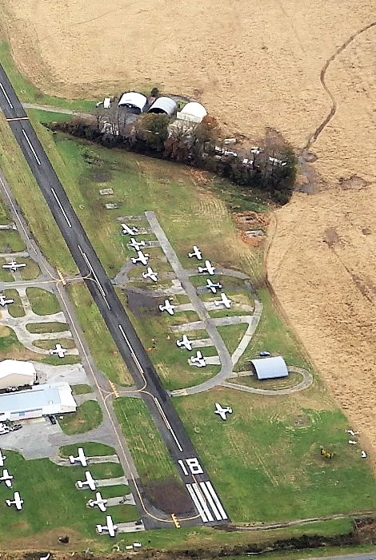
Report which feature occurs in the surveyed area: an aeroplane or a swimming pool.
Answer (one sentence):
I can see an aeroplane in this picture.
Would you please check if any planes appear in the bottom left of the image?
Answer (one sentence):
Yes, a plane is visible in the bottom left of the image.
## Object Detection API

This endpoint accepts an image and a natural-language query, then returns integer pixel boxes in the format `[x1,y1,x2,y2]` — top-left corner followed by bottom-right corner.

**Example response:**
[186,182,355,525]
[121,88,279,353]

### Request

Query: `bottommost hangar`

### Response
[0,383,78,422]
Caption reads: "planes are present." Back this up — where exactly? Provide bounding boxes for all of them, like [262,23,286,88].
[188,353,206,366]
[188,248,204,259]
[214,295,232,307]
[49,344,68,357]
[121,224,138,236]
[0,448,10,466]
[97,516,121,537]
[89,492,110,510]
[142,269,159,279]
[205,279,223,291]
[128,237,145,249]
[199,261,217,275]
[78,472,101,492]
[0,295,14,306]
[214,404,234,419]
[2,259,26,272]
[158,300,176,313]
[132,252,150,264]
[71,450,92,468]
[6,493,28,511]
[0,469,17,486]
[175,336,193,349]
